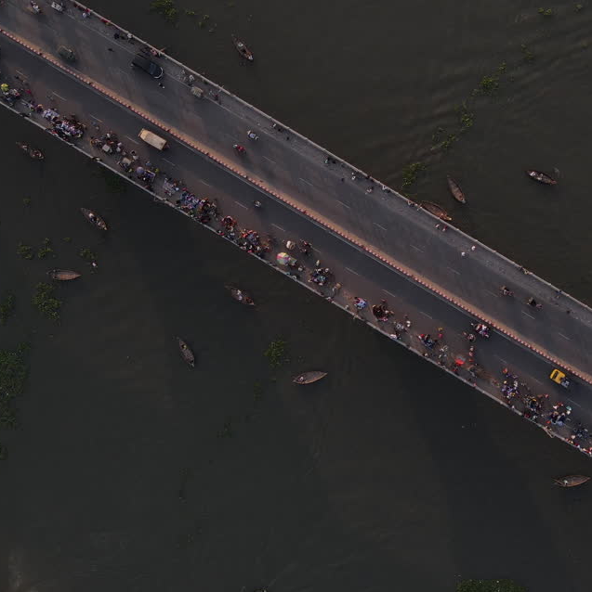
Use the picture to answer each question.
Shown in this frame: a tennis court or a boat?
boat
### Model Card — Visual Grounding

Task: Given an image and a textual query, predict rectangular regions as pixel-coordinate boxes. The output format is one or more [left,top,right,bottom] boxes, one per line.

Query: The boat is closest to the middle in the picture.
[222,284,255,306]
